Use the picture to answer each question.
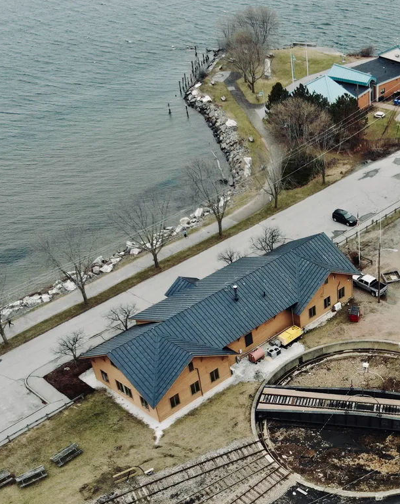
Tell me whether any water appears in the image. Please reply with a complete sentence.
Yes, there's water in this view.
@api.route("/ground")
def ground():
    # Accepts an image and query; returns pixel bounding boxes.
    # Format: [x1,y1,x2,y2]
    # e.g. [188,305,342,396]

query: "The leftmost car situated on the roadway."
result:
[331,208,359,226]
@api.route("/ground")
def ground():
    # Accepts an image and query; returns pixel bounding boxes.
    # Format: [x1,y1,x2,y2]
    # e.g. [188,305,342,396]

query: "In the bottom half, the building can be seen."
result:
[85,235,361,422]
